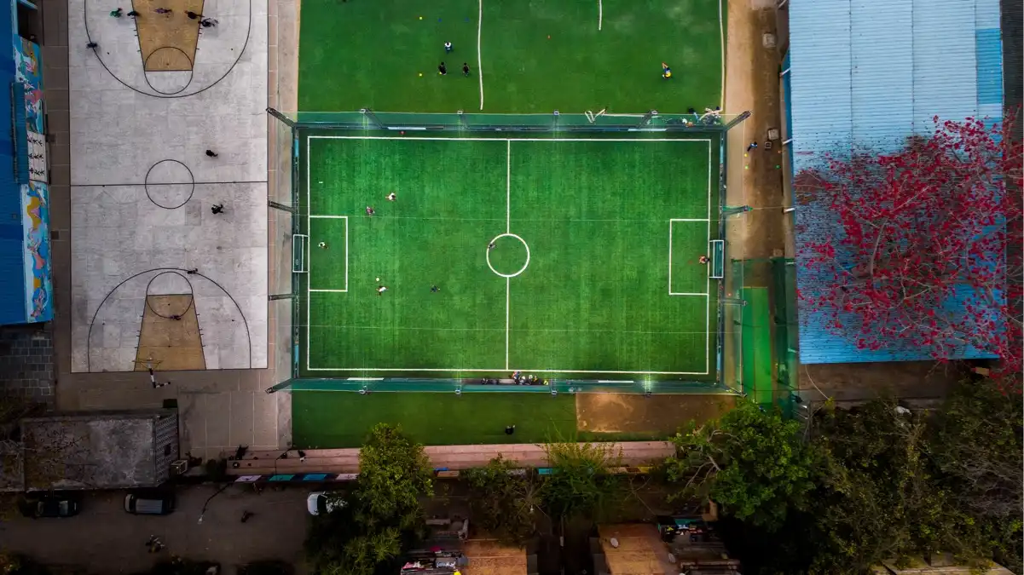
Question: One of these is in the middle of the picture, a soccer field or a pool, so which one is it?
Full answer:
Looking in the middle of the picture, you will find a soccer field.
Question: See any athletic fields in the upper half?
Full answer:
Yes, you'll find an athletic field in the upper half.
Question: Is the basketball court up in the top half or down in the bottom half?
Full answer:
The basketball court sits in the top half of the picture.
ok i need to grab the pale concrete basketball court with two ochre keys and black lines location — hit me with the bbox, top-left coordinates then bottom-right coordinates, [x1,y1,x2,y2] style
[67,0,269,373]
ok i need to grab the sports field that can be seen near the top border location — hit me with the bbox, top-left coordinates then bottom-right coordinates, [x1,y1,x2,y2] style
[299,0,725,112]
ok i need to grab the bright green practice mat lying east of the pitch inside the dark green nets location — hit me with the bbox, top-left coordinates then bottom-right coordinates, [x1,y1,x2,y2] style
[743,287,773,403]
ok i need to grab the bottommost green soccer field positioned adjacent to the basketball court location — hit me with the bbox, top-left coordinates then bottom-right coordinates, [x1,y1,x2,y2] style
[298,129,724,380]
